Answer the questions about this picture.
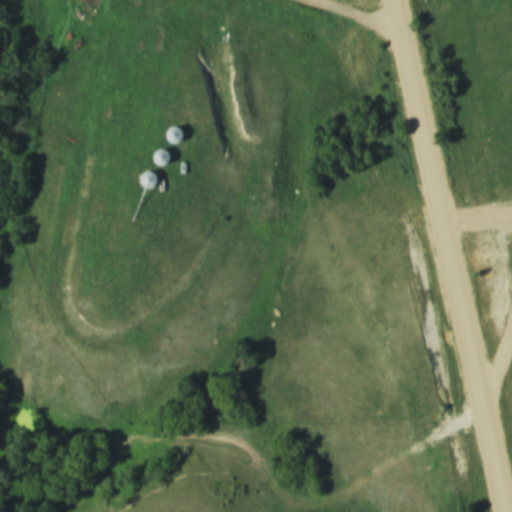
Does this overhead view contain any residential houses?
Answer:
No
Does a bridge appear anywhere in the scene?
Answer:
No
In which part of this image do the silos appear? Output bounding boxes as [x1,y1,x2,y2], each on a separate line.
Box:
[166,126,184,144]
[152,148,170,167]
[139,170,158,189]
